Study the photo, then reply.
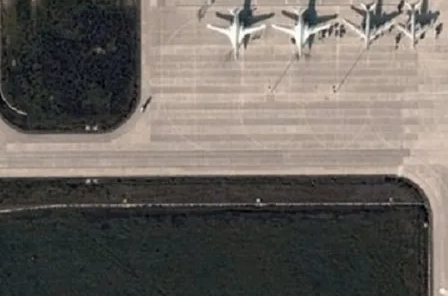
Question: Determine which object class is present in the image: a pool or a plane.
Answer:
plane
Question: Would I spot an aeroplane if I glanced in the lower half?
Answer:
No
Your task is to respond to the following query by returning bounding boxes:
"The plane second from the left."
[272,4,329,60]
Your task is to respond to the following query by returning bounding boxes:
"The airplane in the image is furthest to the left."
[207,4,265,60]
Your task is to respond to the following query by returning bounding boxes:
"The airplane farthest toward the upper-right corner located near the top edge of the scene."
[395,0,432,50]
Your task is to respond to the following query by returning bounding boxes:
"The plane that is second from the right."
[341,0,393,51]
